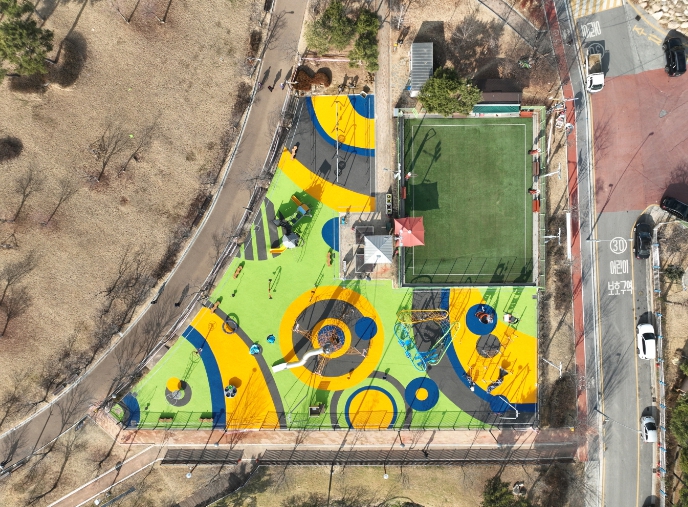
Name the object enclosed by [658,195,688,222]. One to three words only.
car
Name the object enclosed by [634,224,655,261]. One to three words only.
car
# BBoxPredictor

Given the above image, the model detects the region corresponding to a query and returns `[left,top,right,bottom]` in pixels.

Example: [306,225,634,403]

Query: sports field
[398,111,540,284]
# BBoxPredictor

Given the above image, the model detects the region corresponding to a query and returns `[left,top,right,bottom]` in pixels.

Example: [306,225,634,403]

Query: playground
[108,95,539,431]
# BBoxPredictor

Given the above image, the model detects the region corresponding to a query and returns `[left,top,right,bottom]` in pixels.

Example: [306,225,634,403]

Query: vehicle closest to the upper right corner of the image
[666,36,688,77]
